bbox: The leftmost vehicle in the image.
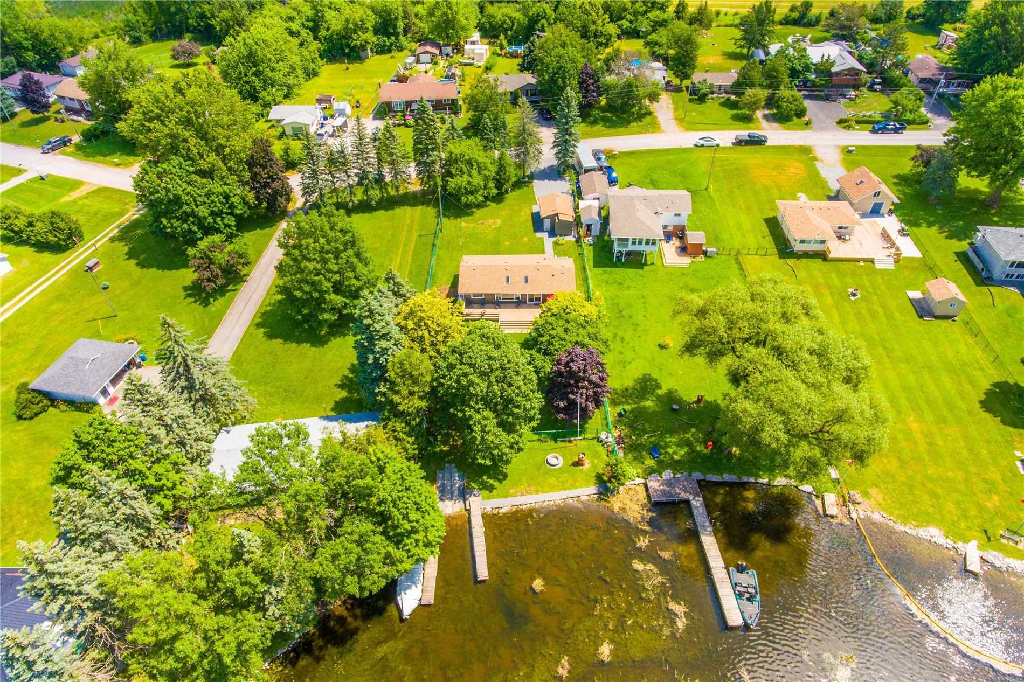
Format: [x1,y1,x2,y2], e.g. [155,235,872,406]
[37,132,74,152]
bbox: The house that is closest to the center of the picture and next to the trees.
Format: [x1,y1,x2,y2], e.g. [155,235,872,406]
[457,255,575,310]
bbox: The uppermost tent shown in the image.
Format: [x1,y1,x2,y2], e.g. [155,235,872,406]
[463,43,488,60]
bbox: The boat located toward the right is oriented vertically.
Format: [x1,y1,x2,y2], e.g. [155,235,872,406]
[731,560,763,629]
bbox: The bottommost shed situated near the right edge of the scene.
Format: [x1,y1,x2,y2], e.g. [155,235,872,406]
[926,274,973,317]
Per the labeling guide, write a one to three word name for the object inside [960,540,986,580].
pier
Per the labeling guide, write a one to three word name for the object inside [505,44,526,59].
swimming pool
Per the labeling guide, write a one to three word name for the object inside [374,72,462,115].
house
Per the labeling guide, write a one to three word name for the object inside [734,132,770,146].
vehicle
